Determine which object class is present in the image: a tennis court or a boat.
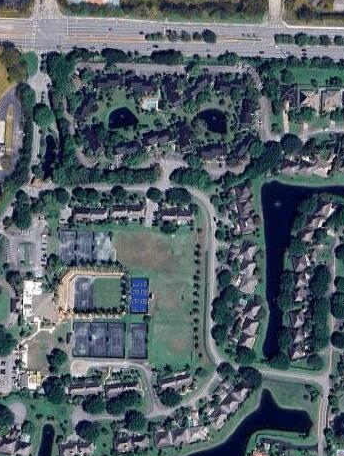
tennis court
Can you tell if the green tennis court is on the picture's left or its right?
left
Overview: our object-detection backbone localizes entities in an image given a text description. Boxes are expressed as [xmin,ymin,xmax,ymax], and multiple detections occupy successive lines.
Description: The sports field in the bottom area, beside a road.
[119,228,193,347]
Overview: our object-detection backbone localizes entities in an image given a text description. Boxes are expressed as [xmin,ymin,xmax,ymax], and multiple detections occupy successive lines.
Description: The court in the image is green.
[94,277,122,311]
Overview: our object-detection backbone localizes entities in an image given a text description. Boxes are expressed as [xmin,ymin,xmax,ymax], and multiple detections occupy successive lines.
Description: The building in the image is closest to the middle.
[161,208,195,223]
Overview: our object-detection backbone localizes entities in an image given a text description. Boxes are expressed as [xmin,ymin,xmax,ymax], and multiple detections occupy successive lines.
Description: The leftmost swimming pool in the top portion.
[144,97,158,111]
